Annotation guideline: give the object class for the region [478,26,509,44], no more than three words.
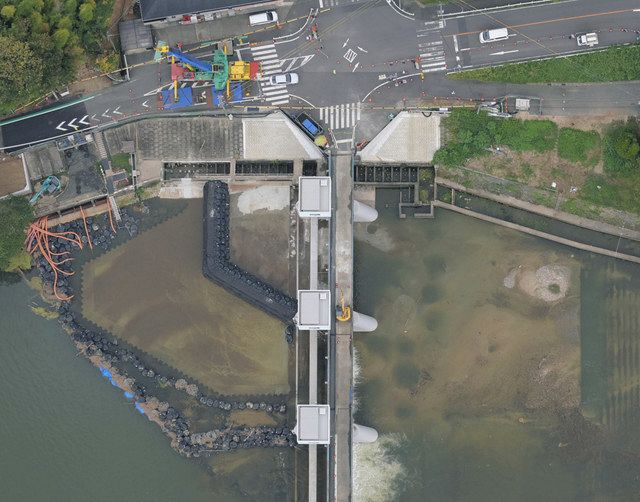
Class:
vehicle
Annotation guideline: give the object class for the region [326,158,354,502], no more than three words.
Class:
bridge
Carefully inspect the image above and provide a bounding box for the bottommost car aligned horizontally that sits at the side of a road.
[270,71,299,86]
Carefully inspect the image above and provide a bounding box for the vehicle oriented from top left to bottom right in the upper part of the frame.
[294,111,325,139]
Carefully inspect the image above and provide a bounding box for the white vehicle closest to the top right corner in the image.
[576,33,599,46]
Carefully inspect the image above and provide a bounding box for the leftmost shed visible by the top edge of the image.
[119,18,154,56]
